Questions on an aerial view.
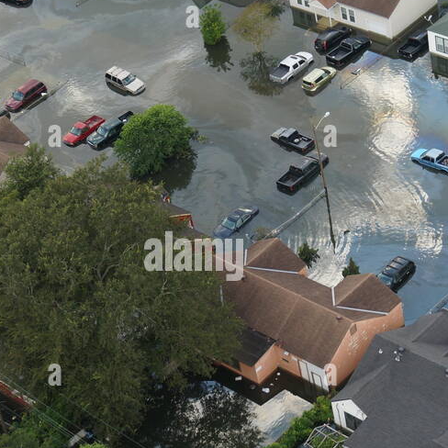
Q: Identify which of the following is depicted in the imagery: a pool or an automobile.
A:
automobile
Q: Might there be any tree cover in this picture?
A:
Yes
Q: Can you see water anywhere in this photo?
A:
Yes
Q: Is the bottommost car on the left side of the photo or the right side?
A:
right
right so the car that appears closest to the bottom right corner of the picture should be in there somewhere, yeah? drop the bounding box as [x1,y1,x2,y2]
[376,246,427,286]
